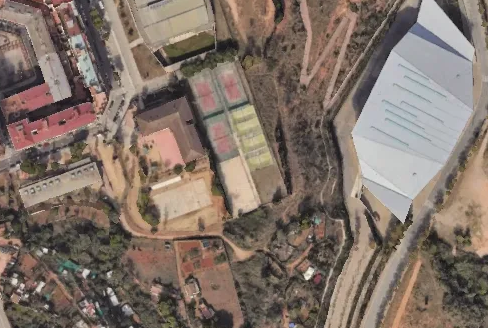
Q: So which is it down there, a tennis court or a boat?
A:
tennis court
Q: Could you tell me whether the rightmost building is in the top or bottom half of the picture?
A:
top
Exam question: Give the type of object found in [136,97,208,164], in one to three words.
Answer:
building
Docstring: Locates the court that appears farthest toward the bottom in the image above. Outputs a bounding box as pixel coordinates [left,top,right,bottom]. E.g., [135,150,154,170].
[154,179,212,222]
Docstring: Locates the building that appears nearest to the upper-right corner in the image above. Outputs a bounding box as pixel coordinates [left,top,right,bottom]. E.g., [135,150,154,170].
[352,0,474,222]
